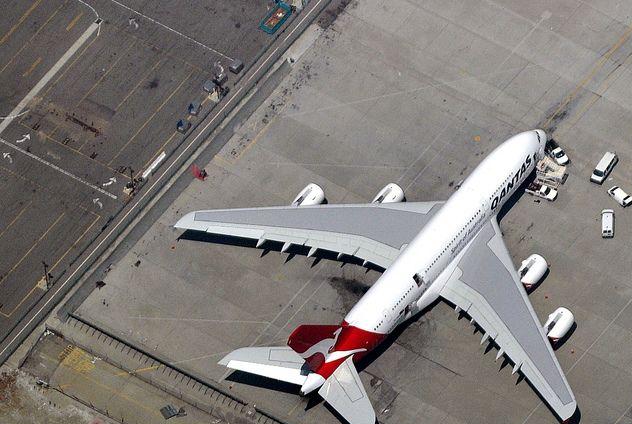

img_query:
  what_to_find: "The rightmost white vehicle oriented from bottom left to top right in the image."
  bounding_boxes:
[590,151,617,186]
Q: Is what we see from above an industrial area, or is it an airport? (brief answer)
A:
airport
